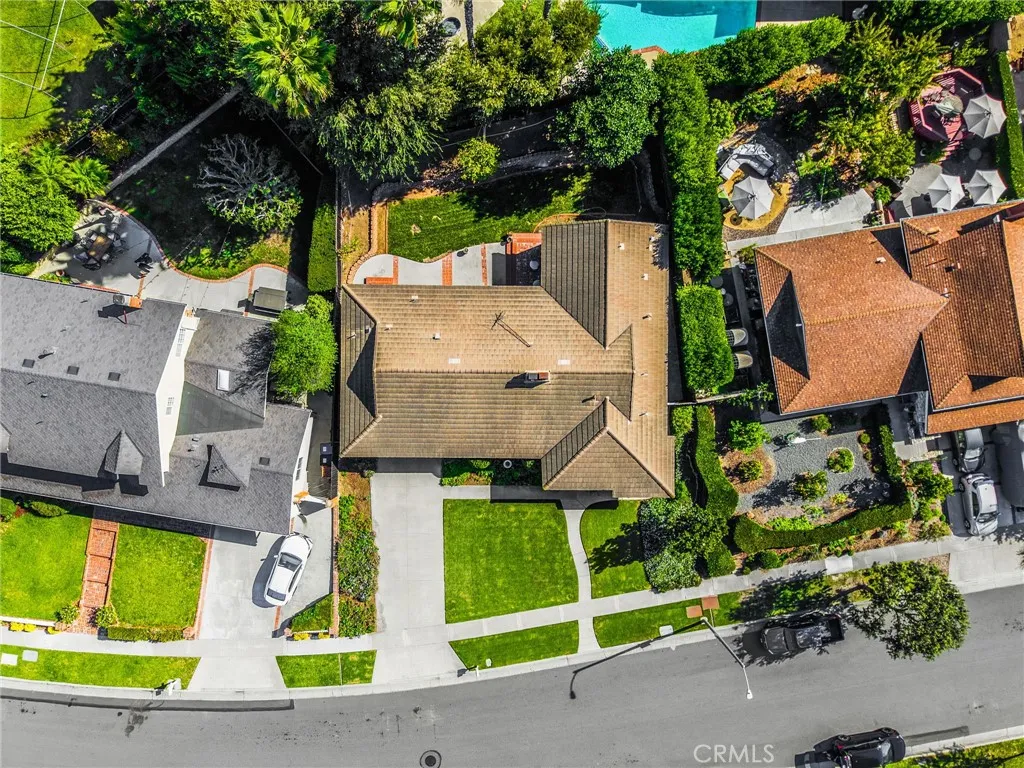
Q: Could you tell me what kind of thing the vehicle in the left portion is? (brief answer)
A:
car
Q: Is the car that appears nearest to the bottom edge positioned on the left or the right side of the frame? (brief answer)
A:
right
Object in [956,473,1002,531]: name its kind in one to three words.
car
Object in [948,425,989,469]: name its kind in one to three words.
car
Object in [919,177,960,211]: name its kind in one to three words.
umbrella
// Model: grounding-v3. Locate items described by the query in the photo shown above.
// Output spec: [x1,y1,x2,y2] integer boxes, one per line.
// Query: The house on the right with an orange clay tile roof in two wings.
[749,195,1024,434]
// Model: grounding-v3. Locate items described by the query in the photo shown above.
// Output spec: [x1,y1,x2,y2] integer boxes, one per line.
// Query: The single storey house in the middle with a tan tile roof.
[339,217,675,497]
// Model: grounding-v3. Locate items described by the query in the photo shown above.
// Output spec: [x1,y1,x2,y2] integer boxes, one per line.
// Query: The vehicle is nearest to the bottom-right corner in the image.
[806,725,904,768]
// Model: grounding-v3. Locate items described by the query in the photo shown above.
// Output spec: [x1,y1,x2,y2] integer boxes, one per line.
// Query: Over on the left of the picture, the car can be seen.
[260,530,316,609]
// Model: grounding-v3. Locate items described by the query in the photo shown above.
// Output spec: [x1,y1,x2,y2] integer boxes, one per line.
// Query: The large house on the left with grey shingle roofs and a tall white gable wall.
[0,273,317,534]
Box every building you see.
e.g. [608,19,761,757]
[339,217,675,497]
[749,195,1024,434]
[0,273,317,534]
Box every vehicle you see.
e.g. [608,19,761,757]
[806,725,904,768]
[260,530,316,609]
[759,609,848,653]
[948,425,989,469]
[956,473,1002,531]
